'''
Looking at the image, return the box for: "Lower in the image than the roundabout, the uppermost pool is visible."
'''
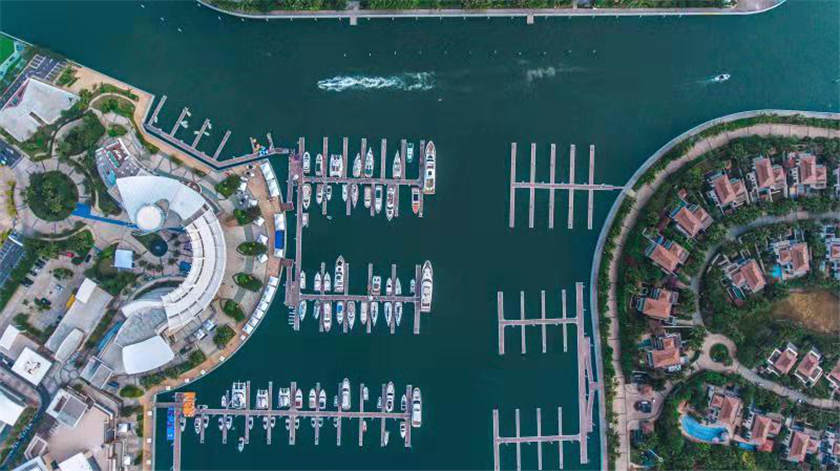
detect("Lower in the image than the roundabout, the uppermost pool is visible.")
[681,414,729,441]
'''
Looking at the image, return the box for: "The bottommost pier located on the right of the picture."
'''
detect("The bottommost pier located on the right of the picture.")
[491,407,581,471]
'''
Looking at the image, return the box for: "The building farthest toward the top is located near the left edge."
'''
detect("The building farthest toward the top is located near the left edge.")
[0,79,84,142]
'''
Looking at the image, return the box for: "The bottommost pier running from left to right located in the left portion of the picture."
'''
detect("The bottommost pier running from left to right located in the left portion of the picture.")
[182,381,413,447]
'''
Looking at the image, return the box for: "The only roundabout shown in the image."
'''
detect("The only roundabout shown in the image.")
[701,333,737,369]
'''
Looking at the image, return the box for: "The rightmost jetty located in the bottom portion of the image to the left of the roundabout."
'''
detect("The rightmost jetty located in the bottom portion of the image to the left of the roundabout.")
[576,282,600,464]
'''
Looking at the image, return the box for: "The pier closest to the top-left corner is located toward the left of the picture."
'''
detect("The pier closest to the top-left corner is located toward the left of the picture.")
[146,95,290,167]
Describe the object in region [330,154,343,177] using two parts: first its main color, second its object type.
white boat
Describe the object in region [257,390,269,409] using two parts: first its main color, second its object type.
white boat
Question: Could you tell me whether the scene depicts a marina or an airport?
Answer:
marina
